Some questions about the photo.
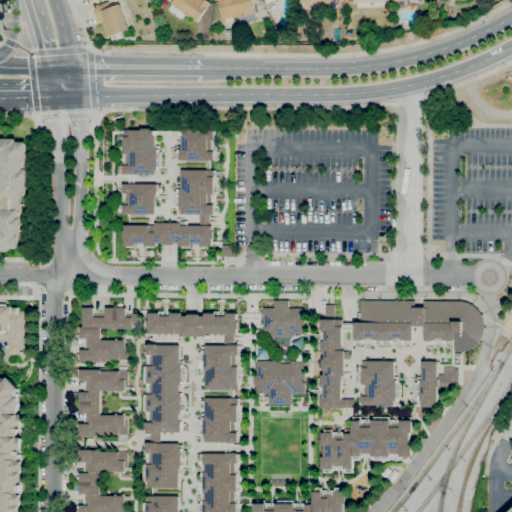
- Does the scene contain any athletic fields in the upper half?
No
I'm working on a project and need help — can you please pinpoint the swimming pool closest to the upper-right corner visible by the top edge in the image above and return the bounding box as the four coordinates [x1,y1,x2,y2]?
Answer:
[398,9,418,22]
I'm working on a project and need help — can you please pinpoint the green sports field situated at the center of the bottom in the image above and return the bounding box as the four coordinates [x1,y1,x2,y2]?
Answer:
[260,412,302,478]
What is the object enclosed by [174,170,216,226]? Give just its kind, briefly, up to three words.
building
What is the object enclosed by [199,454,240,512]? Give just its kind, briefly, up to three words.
building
